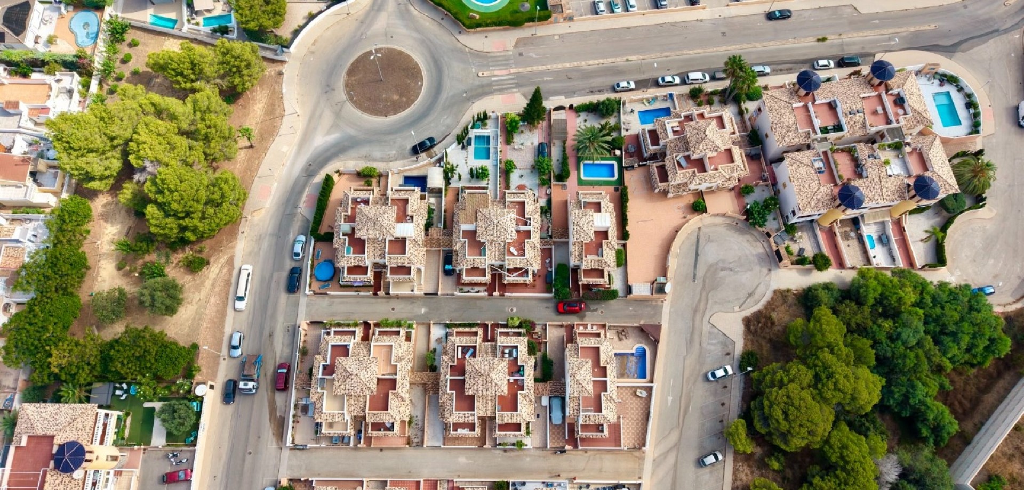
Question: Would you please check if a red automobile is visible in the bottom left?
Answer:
Yes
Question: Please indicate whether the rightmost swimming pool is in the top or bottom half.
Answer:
top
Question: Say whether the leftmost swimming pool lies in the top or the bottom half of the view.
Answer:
top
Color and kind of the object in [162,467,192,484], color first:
red car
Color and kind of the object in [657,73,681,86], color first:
white vehicle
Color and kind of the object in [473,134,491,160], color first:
blue swimming pool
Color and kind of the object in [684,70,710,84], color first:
white car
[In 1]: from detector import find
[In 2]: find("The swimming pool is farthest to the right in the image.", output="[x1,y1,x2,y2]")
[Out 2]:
[931,91,963,128]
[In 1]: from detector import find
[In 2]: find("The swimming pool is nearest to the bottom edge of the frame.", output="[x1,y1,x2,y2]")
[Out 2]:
[613,344,648,381]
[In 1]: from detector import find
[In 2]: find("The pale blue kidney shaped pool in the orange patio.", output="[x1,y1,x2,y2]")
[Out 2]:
[69,8,100,46]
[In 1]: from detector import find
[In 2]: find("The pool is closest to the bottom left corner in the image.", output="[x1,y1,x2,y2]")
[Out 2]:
[313,260,337,283]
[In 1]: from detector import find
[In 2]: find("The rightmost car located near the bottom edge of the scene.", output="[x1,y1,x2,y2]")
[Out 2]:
[698,450,724,467]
